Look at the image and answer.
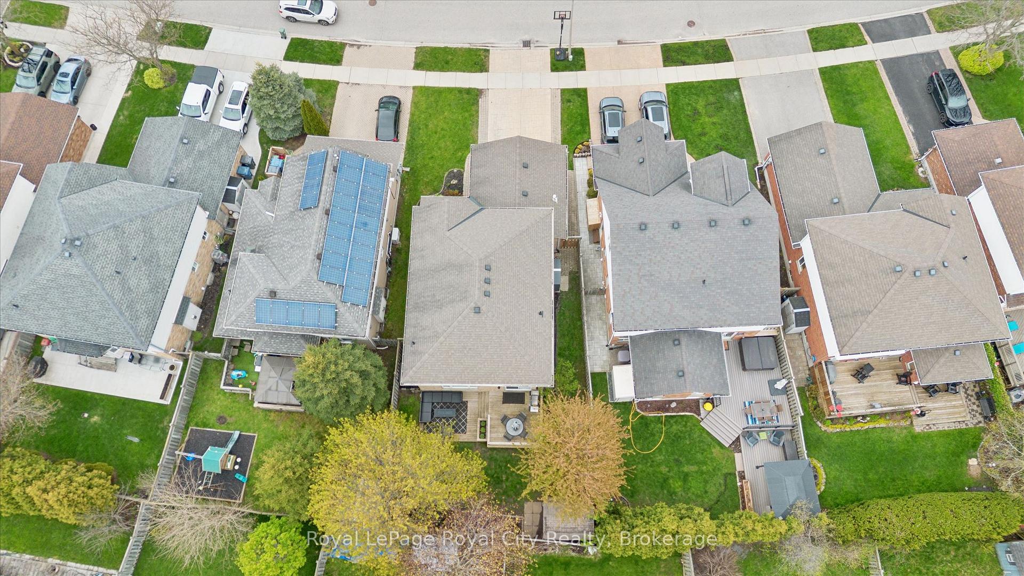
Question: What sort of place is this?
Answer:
residential area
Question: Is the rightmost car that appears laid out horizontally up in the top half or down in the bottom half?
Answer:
top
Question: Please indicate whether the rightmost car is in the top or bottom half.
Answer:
top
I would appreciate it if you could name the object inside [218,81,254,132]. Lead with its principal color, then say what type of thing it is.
white car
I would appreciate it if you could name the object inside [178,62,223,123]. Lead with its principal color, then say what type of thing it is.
white truck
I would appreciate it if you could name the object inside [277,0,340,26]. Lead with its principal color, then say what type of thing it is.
white car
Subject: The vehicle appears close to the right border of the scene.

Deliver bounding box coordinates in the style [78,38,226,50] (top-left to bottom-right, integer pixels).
[928,66,975,128]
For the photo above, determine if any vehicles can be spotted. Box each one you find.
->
[50,54,93,106]
[599,98,628,145]
[277,0,340,26]
[638,91,674,140]
[218,81,254,132]
[928,66,975,128]
[178,62,223,123]
[14,45,62,97]
[374,96,402,142]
